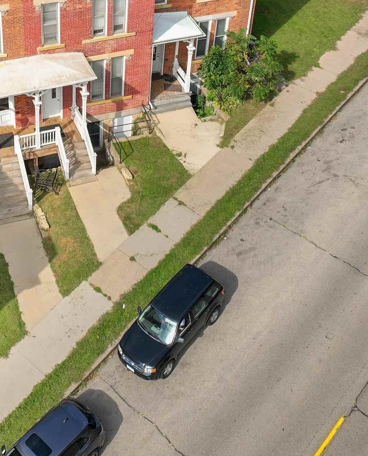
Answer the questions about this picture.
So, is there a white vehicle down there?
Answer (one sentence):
No, no white vehicle is visible in the view.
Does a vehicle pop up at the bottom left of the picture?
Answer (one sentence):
Yes, a vehicle can be seen at the bottom left of the picture.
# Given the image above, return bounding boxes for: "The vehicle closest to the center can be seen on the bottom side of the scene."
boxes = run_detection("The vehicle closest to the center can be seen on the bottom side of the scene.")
[106,256,223,387]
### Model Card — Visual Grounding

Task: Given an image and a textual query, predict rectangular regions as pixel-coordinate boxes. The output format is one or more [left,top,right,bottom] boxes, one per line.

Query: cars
[106,256,223,387]
[0,386,106,456]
